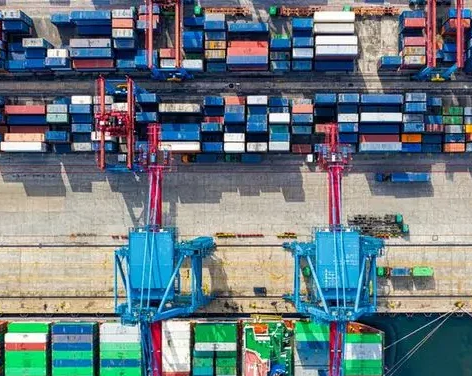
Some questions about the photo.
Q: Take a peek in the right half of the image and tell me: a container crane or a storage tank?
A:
container crane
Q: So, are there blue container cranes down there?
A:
Yes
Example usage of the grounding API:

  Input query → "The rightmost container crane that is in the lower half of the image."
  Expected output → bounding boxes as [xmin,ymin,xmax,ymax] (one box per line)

[280,121,388,376]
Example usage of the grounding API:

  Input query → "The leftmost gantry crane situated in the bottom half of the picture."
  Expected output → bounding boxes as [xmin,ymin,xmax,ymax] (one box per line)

[111,122,218,376]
